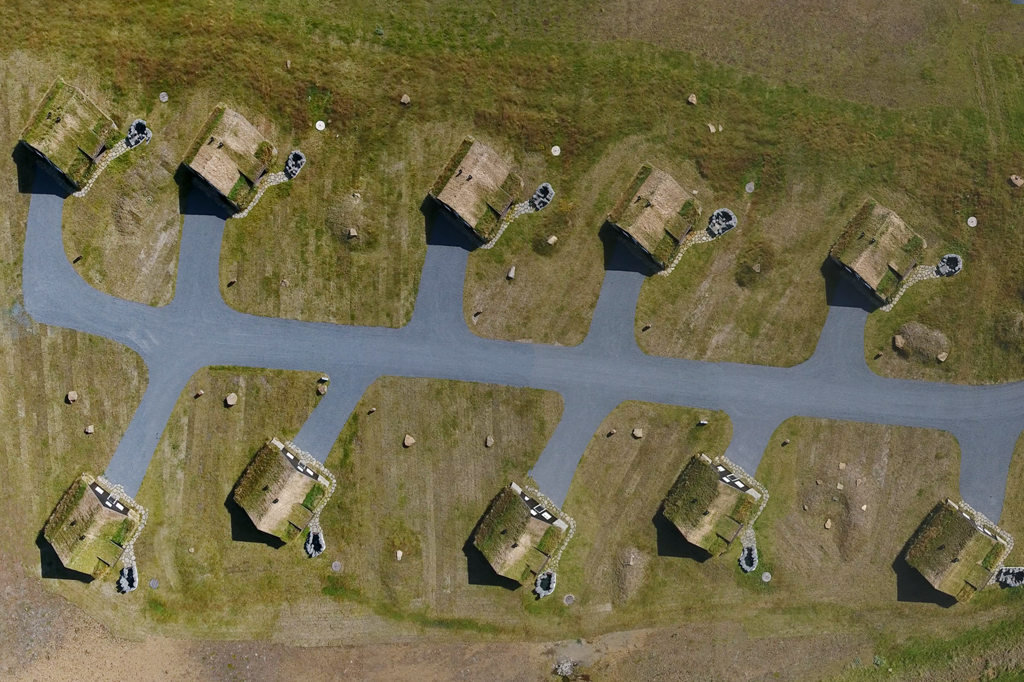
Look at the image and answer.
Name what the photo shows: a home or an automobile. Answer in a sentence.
Visible in the photo is a home.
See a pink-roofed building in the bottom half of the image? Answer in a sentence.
No, no pink-roofed building is visible in the bottom half of the image.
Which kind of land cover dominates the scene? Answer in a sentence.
The scene is dominated by grass.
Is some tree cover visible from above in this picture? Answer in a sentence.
No, there is no tree cover in the image.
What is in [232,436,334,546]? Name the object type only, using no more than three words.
house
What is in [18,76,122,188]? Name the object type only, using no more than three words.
house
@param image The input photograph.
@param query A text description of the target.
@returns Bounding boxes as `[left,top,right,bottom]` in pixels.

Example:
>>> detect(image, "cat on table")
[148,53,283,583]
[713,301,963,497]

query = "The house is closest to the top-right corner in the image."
[829,196,927,303]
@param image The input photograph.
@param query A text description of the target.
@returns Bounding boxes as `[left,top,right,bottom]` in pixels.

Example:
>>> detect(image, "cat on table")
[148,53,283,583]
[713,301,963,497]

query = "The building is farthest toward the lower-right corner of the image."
[906,496,1005,606]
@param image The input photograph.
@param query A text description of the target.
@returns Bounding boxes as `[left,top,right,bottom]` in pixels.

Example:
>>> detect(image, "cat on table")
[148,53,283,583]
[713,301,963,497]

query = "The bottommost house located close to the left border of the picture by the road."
[42,471,146,582]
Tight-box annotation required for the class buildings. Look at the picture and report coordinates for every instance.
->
[661,449,761,559]
[906,496,1005,606]
[180,100,282,211]
[606,160,705,269]
[18,76,122,188]
[232,436,334,546]
[428,134,528,243]
[42,471,146,582]
[829,196,927,303]
[471,479,571,589]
